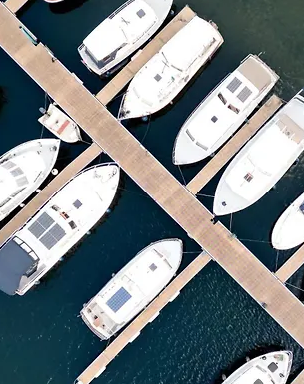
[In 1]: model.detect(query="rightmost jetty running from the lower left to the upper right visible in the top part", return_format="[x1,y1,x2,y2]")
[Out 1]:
[185,94,284,197]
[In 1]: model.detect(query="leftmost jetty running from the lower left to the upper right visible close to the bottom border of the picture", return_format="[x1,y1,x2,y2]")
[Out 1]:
[77,247,218,384]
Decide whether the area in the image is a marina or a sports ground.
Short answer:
marina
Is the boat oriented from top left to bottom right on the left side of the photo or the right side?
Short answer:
left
